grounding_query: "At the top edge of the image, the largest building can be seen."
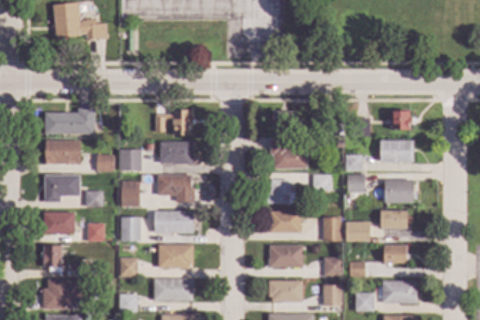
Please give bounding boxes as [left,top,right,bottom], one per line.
[50,2,108,40]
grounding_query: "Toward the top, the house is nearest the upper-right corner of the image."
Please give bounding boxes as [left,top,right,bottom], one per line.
[392,109,417,130]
